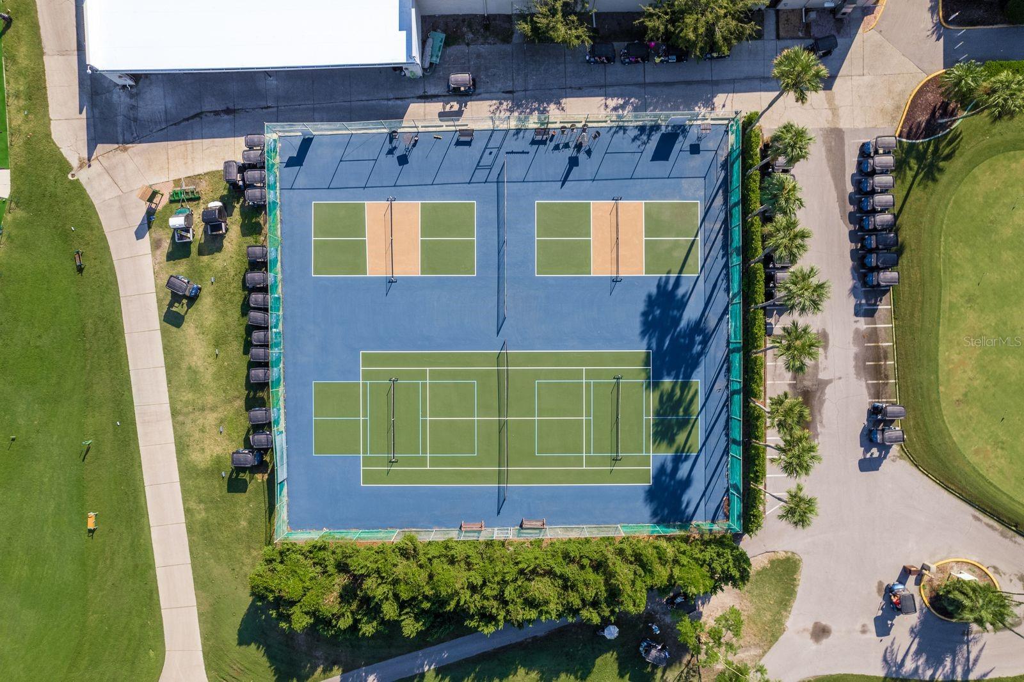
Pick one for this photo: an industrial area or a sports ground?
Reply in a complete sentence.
It's a sports ground.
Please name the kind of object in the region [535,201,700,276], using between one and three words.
sports court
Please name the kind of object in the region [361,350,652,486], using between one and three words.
tennis court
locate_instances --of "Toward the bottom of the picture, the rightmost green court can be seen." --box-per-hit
[536,381,700,455]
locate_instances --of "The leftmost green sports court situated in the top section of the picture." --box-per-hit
[313,202,476,276]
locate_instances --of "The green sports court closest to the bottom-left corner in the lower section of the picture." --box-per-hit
[313,382,476,456]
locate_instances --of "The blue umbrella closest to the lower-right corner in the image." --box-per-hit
[600,624,615,640]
